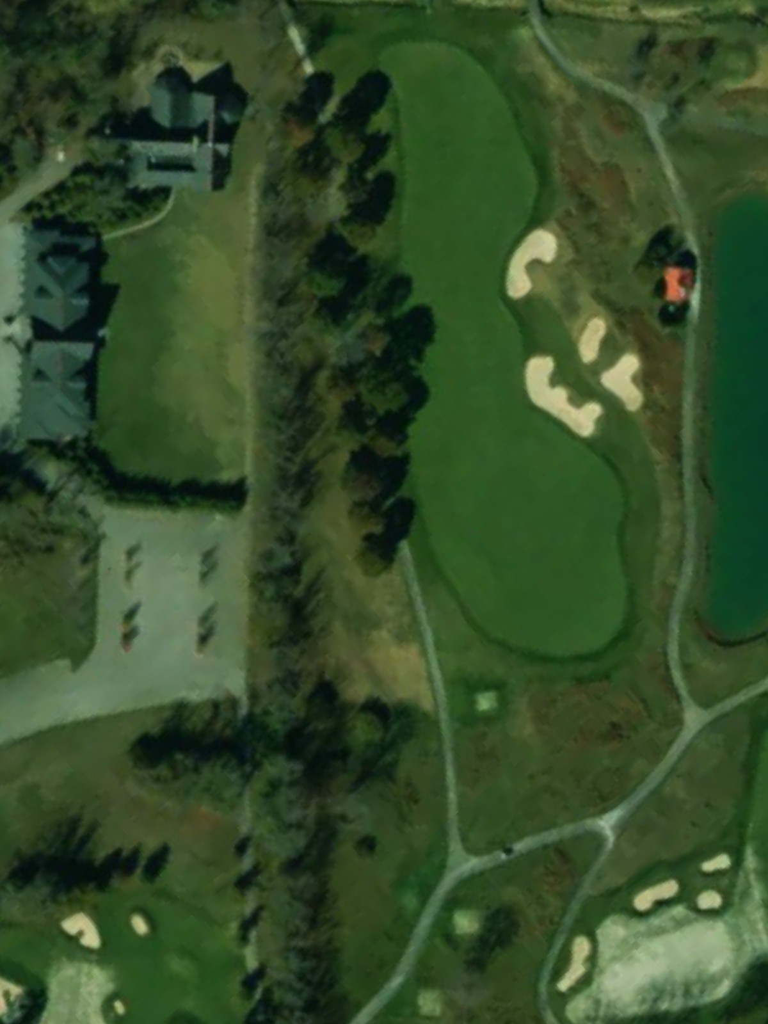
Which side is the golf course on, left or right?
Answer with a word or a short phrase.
right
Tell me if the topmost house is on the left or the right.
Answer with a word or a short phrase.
left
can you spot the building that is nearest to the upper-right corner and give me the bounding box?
[665,266,693,301]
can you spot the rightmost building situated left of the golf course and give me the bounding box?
[100,82,239,189]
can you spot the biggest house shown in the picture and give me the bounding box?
[16,228,109,441]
